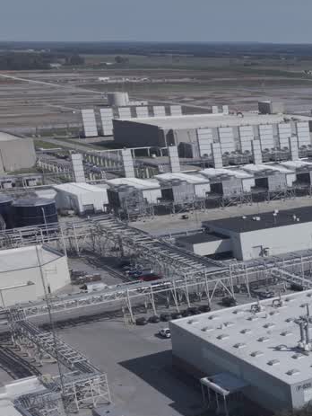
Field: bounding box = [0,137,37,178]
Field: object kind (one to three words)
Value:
building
